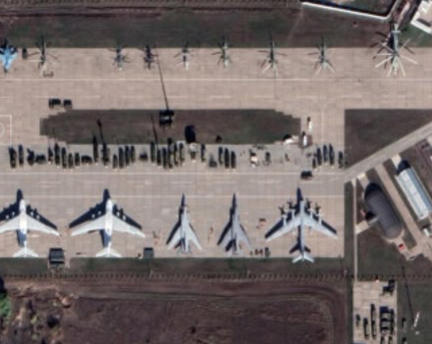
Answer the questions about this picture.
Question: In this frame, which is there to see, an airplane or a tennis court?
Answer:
airplane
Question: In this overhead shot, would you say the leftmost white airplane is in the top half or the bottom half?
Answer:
bottom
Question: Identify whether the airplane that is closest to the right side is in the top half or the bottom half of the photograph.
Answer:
bottom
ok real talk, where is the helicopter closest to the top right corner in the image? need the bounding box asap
[373,27,418,73]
